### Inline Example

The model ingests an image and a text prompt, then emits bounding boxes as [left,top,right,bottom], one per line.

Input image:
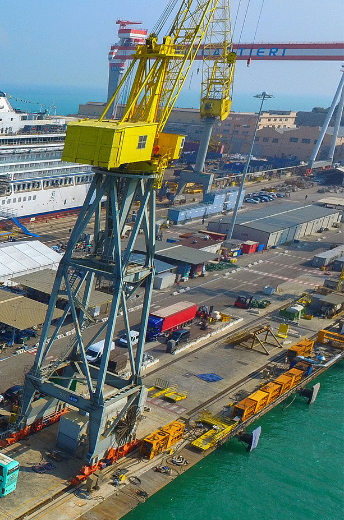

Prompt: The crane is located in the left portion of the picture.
[0,0,259,483]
